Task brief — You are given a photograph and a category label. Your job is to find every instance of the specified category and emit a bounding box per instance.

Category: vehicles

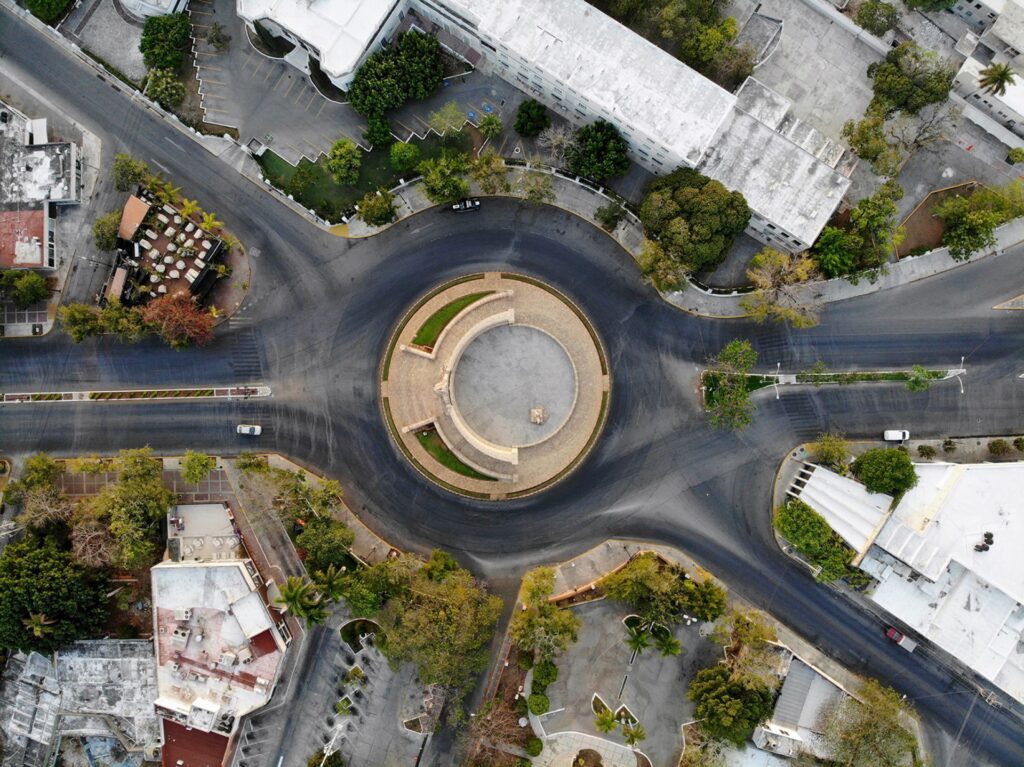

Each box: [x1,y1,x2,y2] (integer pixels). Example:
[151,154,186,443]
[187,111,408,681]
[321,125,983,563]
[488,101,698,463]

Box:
[237,424,262,436]
[451,199,482,213]
[883,429,910,444]
[885,627,920,653]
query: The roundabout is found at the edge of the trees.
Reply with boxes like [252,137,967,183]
[324,214,668,558]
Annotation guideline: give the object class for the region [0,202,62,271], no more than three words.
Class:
building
